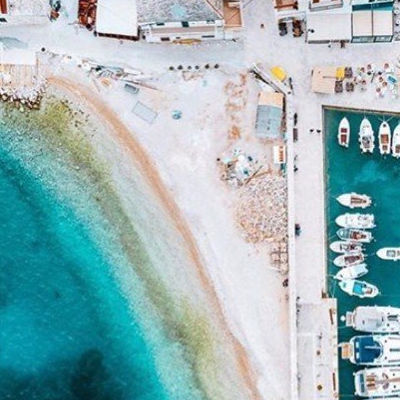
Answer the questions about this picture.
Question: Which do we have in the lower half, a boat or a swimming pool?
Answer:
boat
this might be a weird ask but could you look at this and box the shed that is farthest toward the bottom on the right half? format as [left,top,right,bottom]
[256,92,283,143]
